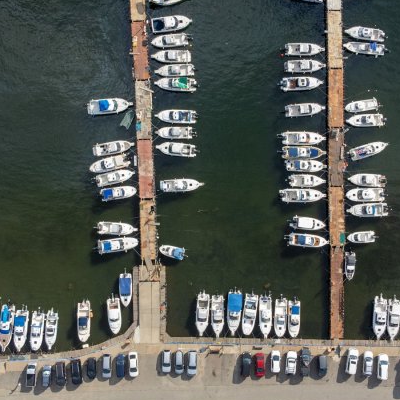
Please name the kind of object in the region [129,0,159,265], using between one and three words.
pier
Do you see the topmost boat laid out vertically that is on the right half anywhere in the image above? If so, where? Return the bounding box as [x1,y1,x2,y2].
[343,246,358,284]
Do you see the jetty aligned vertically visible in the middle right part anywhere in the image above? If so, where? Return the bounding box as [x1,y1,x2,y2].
[325,0,348,339]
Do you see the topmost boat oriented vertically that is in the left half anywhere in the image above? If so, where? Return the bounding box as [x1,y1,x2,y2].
[120,268,133,307]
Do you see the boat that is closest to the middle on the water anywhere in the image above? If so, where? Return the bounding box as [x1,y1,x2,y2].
[151,178,205,193]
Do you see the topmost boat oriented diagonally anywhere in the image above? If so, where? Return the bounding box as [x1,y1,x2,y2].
[118,111,134,130]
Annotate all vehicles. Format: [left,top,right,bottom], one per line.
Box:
[54,361,66,387]
[255,352,266,377]
[128,351,139,377]
[345,348,359,375]
[186,350,198,375]
[377,353,389,380]
[116,353,126,377]
[102,353,112,377]
[362,350,374,376]
[86,357,96,379]
[241,352,252,377]
[174,350,184,373]
[300,348,312,377]
[70,359,82,385]
[25,362,38,388]
[286,350,297,375]
[317,354,329,377]
[161,349,171,373]
[270,350,280,373]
